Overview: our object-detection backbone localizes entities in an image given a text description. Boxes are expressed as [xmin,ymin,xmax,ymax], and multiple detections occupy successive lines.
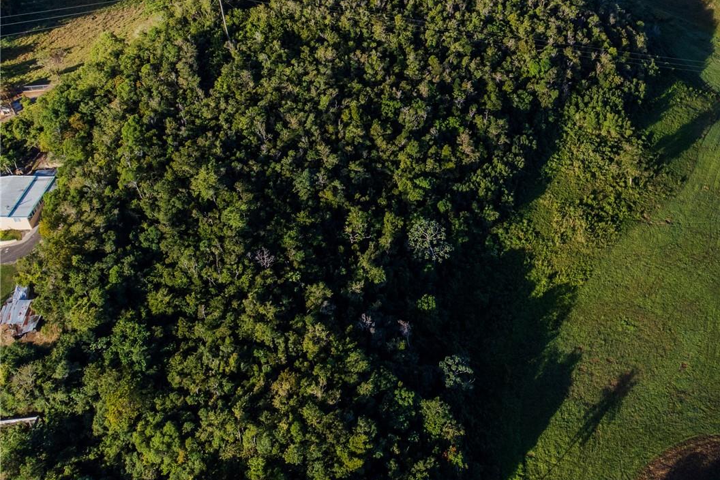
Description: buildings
[0,281,36,337]
[0,170,58,231]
